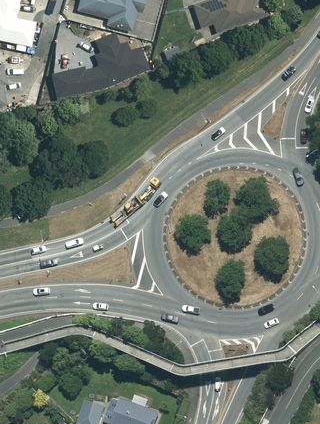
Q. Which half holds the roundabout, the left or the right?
right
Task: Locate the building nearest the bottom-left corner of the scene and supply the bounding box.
[76,400,105,424]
